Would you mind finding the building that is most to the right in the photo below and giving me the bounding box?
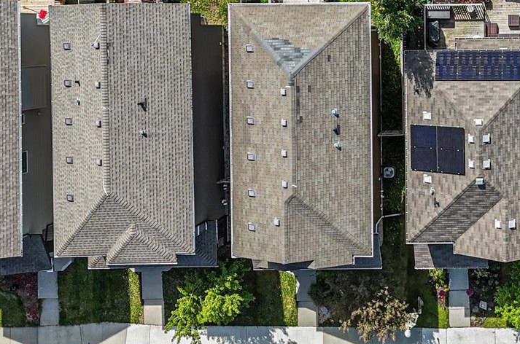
[404,38,520,269]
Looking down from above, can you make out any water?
No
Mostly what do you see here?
buildings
